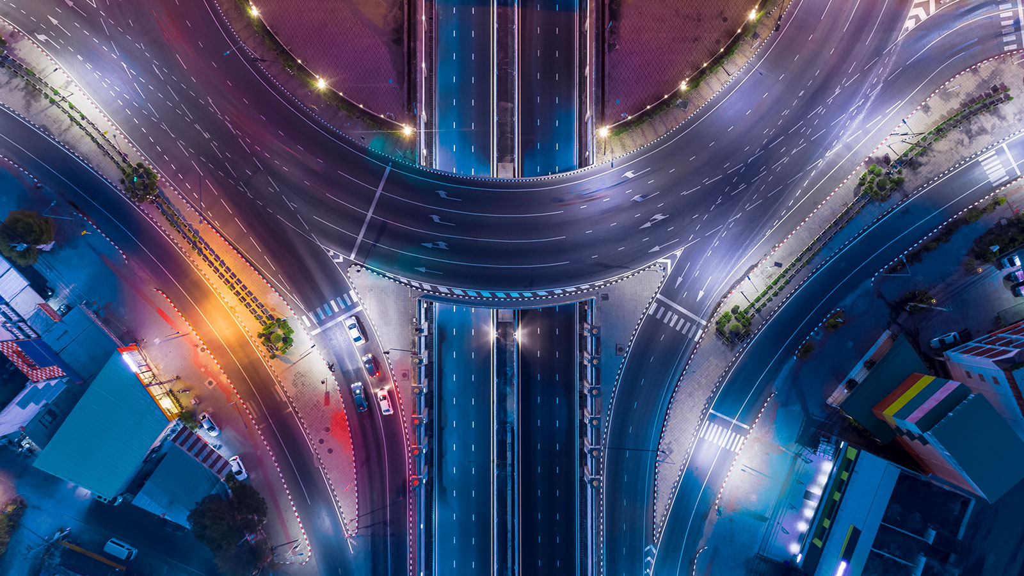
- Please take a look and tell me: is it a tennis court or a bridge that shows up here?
bridge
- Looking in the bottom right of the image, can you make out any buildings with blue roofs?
Yes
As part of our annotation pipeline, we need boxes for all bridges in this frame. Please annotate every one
[421,162,591,322]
